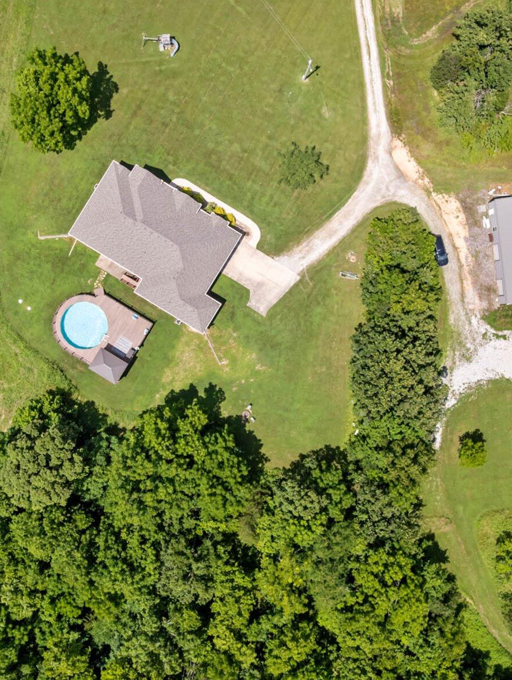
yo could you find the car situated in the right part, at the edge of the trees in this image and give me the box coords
[432,234,451,266]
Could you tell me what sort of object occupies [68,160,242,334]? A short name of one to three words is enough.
house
